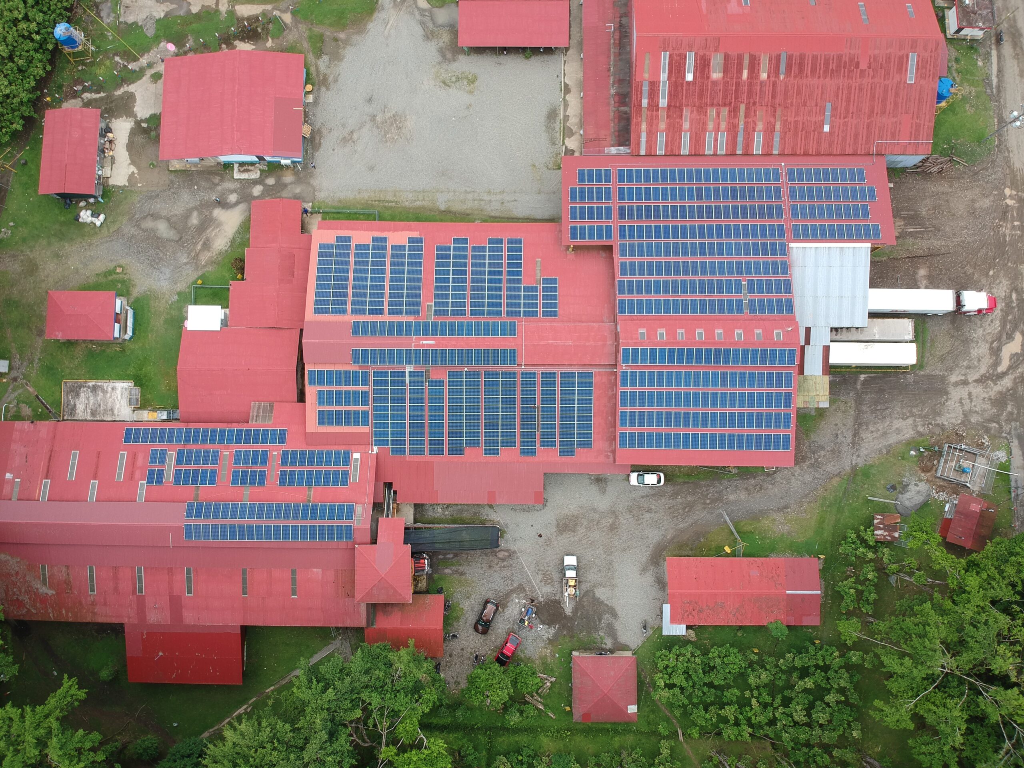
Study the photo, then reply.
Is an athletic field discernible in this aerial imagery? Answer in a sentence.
No, this view has no athletic field in it.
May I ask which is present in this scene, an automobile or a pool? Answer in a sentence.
Of the two, only an automobile appears.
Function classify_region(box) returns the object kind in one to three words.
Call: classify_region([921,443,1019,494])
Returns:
building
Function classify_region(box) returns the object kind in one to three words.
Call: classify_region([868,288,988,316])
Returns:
truck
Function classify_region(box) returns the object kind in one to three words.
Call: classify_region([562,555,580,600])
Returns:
vehicle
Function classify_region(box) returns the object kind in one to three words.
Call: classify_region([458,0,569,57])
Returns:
shed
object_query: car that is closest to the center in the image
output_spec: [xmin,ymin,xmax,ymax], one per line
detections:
[629,470,665,488]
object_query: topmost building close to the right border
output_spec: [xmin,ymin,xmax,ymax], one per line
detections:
[945,0,994,40]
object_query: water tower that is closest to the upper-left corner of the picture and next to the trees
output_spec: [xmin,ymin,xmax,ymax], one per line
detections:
[55,24,102,68]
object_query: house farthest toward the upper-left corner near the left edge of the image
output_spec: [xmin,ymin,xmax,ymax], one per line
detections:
[39,108,106,198]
